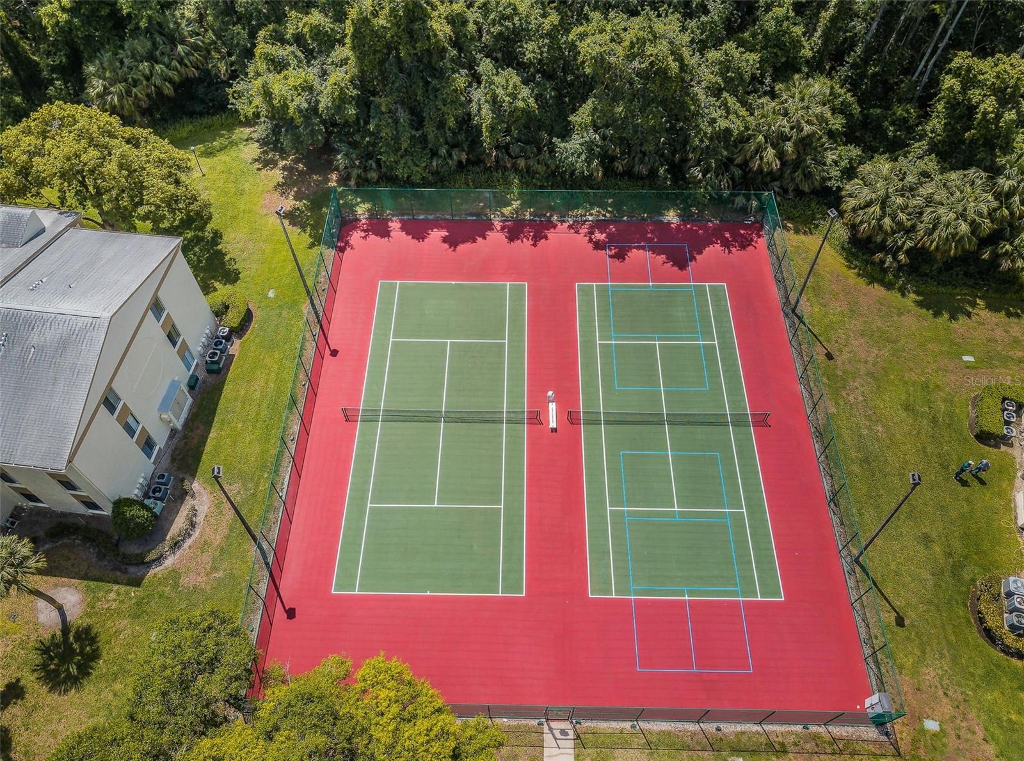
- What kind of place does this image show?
sports ground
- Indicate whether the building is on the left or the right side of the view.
left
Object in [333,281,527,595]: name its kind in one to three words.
tennis court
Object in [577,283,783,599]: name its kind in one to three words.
tennis court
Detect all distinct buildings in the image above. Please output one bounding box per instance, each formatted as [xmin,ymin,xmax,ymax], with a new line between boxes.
[0,204,217,532]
